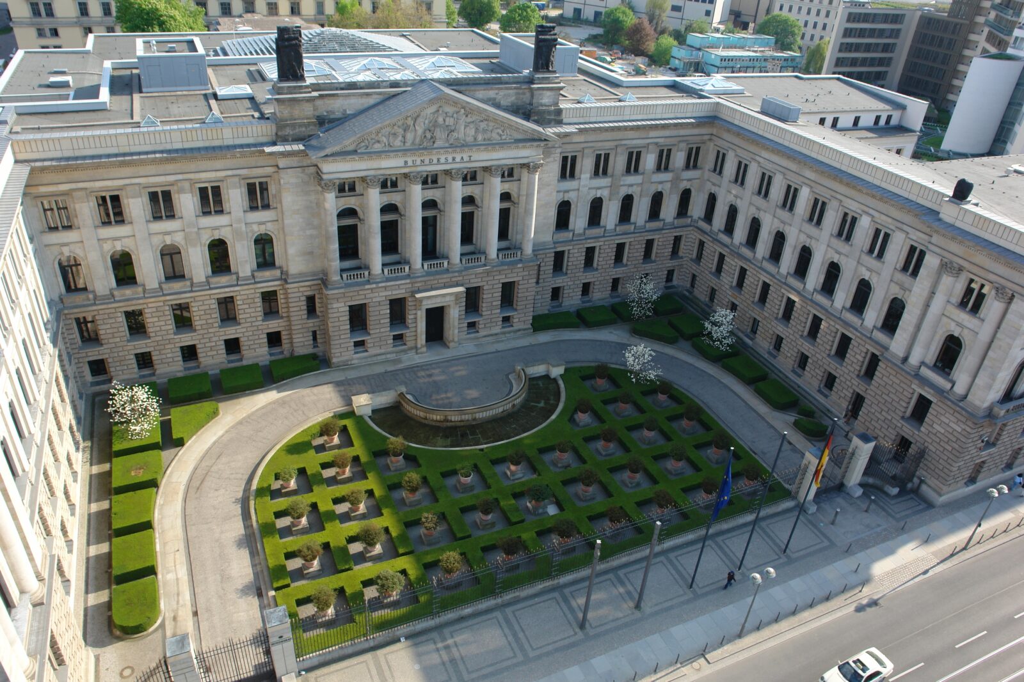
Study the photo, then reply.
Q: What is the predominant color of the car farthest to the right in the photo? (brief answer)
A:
white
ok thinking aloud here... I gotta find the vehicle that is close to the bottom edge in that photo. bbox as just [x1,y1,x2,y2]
[815,650,891,682]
